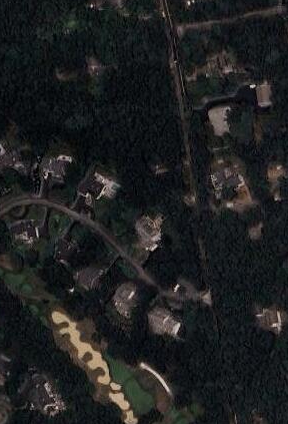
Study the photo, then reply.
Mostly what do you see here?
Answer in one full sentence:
The scene is dominated by trees.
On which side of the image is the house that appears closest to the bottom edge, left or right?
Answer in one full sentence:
You can find the house that appears closest to the bottom edge on the left side of the picture.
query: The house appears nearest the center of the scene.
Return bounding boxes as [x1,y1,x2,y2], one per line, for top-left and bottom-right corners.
[137,214,162,249]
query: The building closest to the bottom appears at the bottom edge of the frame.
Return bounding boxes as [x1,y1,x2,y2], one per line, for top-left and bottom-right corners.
[24,370,62,417]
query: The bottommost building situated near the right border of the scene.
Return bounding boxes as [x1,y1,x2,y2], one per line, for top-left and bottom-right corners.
[257,307,285,327]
